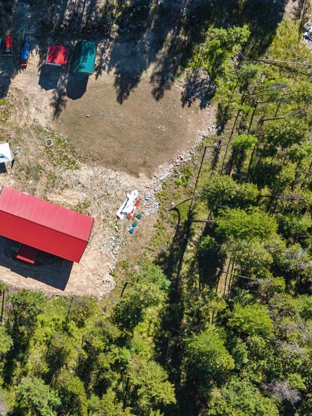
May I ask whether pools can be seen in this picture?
No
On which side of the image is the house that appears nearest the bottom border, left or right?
left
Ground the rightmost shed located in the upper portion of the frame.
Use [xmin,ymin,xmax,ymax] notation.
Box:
[66,40,94,77]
